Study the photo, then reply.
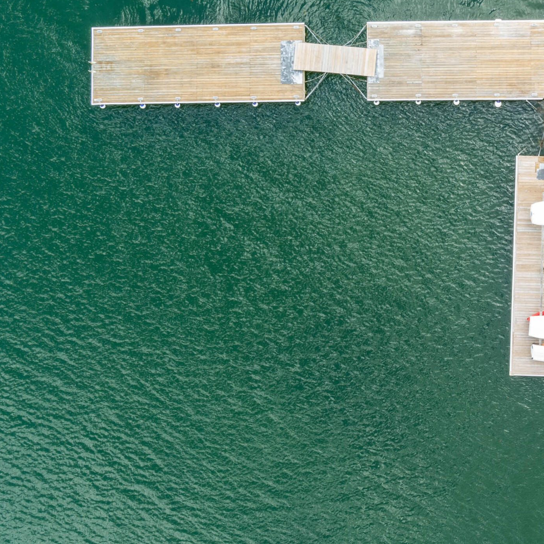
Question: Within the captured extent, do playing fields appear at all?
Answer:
No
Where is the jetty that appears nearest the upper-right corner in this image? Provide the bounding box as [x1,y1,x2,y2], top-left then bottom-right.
[366,19,544,102]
